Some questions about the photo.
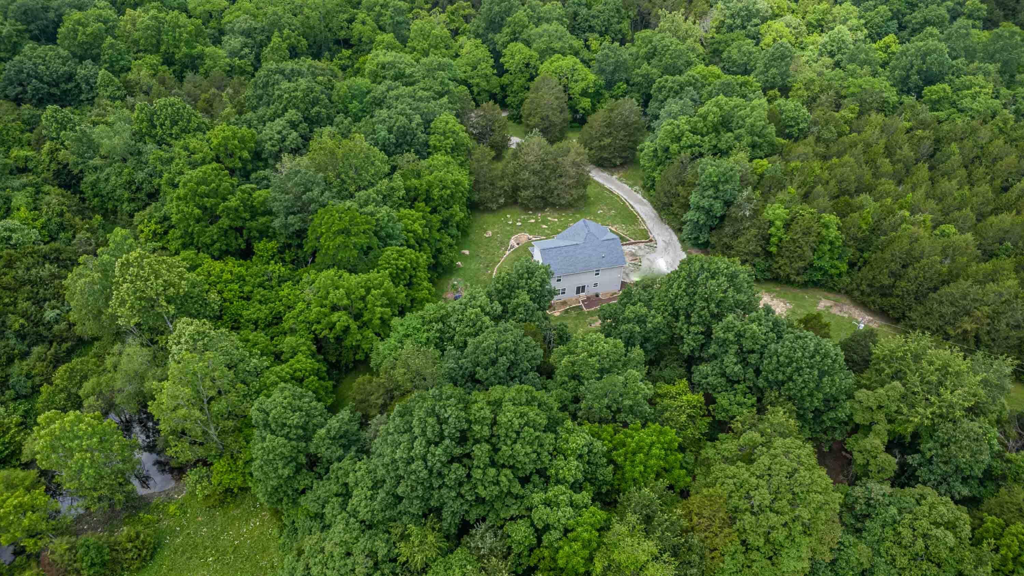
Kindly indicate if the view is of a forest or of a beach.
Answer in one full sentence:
This looks like a forest.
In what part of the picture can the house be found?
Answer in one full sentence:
You can find the house in the center area of the picture.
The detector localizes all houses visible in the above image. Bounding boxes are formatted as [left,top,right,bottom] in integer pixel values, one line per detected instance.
[528,216,626,301]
